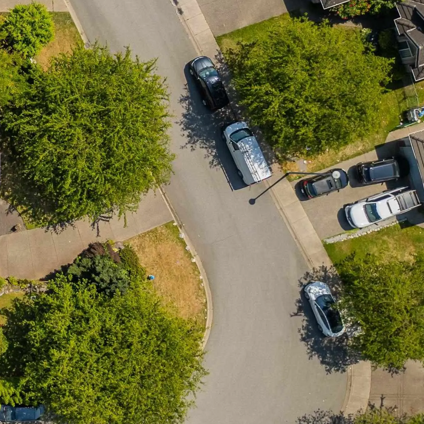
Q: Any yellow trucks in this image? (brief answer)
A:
No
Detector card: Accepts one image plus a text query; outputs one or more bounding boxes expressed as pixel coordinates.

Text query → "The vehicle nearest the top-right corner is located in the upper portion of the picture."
[352,154,407,184]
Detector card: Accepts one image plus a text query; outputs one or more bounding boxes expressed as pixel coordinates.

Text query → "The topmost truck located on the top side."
[189,52,232,113]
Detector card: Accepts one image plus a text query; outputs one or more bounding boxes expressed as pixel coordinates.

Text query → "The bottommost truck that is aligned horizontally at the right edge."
[349,189,424,223]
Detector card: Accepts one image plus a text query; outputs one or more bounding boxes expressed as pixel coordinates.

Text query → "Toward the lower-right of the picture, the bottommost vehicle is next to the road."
[303,282,345,338]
